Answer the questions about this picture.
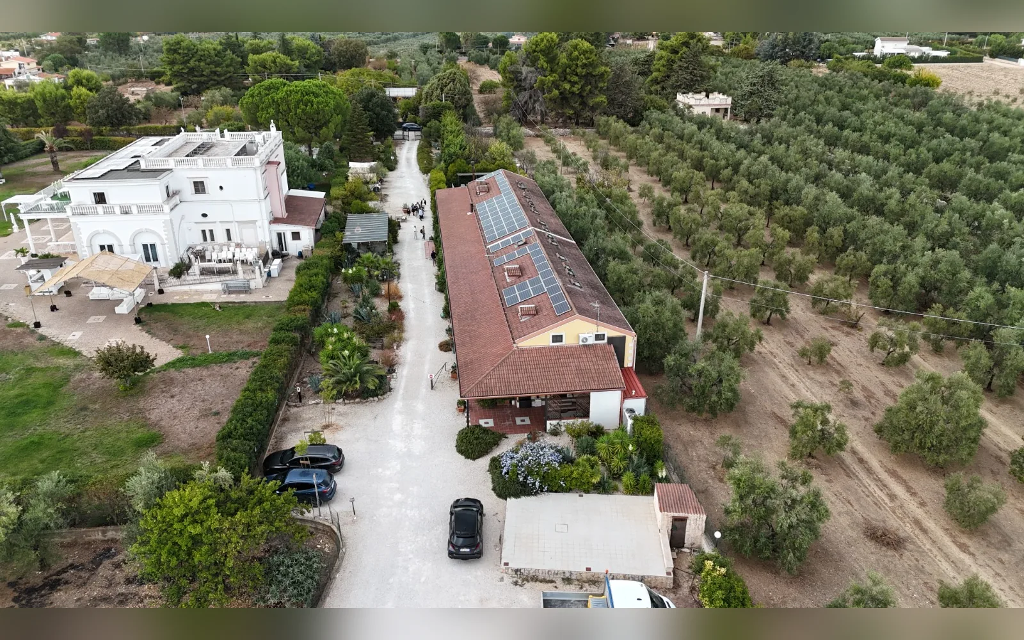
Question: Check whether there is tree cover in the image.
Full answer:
Yes, the picture does contain tree cover.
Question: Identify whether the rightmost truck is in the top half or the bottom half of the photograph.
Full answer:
You can find the rightmost truck in the bottom half.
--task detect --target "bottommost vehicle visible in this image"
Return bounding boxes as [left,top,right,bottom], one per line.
[543,573,684,640]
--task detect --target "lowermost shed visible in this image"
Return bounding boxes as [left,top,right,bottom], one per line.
[651,478,710,551]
